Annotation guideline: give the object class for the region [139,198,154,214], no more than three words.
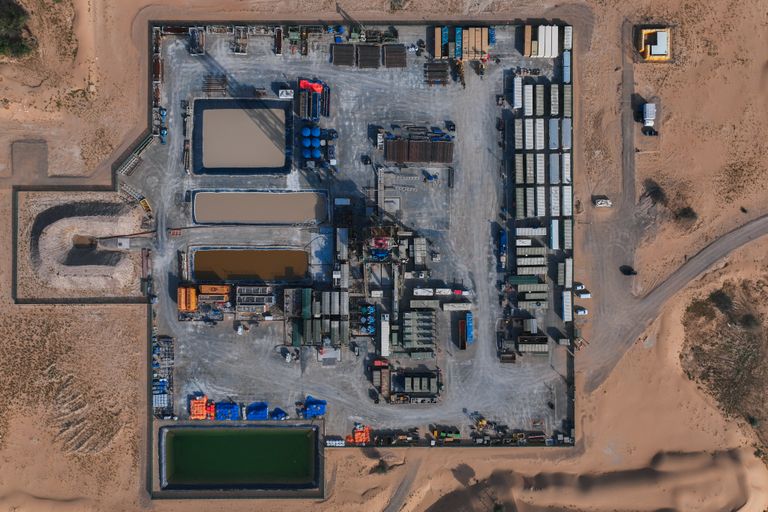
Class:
vehicle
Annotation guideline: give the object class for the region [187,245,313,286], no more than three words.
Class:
pond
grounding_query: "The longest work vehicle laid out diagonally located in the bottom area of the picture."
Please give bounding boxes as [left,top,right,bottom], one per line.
[466,403,488,429]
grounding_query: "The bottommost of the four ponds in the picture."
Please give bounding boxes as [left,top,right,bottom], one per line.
[158,424,326,492]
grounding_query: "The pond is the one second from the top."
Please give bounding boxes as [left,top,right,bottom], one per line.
[190,188,330,227]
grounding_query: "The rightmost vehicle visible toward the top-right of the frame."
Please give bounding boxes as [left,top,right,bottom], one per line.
[641,103,657,135]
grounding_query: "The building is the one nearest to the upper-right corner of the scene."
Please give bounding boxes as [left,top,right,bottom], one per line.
[648,31,670,58]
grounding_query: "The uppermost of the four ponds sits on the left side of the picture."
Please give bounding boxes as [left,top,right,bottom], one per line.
[191,97,295,176]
